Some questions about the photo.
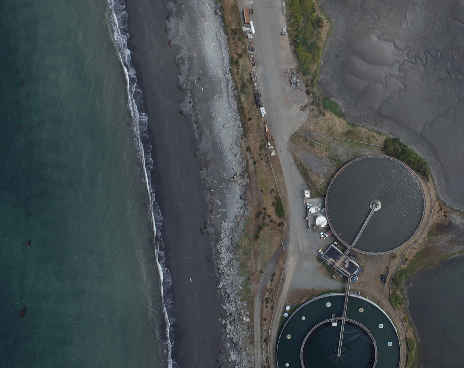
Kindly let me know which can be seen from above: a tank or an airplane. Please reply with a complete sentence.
Visible in the photo is a tank.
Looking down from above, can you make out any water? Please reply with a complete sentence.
Yes, the picture does contain water.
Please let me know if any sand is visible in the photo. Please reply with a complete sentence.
Yes, there is sand in the image.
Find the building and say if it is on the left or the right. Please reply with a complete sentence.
The building appears in the right half of the scene.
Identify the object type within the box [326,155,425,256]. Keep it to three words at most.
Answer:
storage tank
